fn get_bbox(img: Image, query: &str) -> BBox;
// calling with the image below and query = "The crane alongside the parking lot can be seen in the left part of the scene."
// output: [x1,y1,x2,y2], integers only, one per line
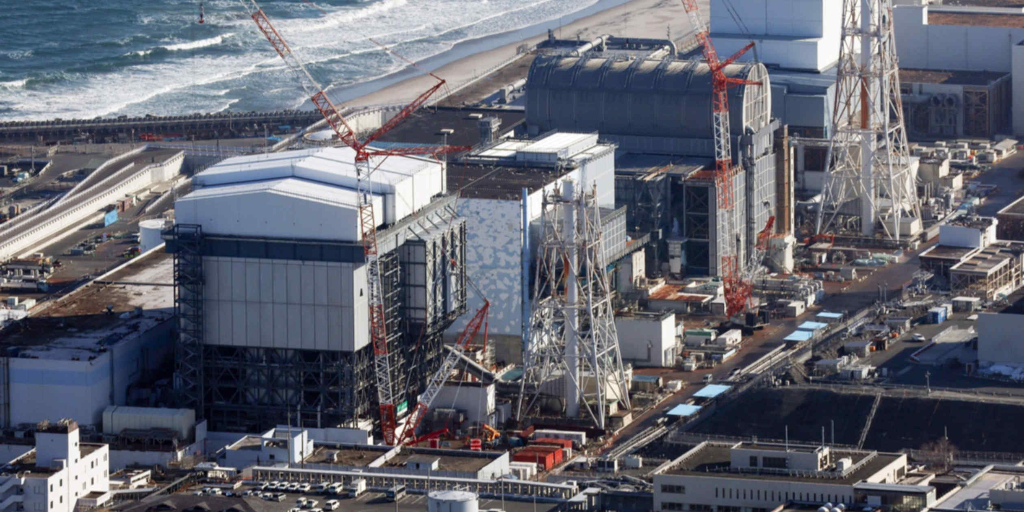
[234,0,491,446]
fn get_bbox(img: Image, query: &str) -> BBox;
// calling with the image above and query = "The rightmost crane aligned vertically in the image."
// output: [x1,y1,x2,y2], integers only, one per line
[677,0,791,328]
